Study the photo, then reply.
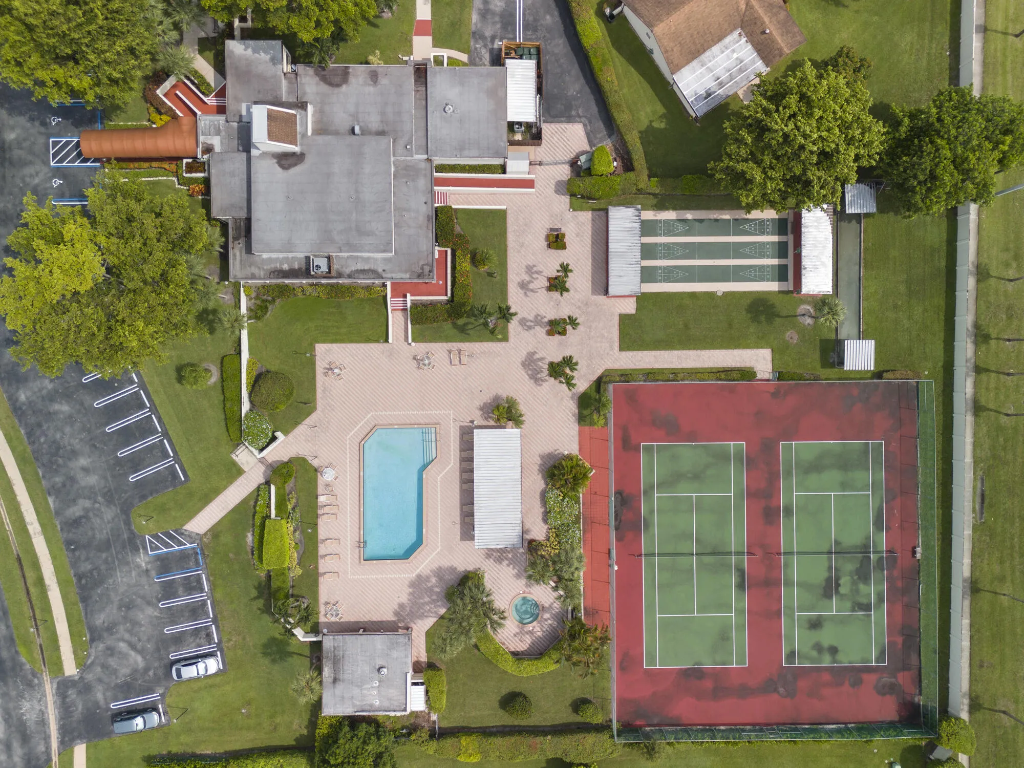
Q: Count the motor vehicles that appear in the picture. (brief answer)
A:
2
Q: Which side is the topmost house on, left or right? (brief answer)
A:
right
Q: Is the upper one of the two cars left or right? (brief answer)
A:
left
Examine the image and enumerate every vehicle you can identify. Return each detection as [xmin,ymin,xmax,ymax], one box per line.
[109,706,162,735]
[168,654,217,680]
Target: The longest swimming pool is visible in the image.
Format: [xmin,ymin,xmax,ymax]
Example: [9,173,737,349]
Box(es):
[357,424,440,563]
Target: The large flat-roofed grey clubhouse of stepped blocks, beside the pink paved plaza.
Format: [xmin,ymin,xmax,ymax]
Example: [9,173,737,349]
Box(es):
[198,40,507,286]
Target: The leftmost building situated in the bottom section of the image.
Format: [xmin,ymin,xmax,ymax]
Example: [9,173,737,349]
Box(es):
[323,620,417,715]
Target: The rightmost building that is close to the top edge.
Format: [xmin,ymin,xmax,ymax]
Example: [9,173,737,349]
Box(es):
[626,0,807,124]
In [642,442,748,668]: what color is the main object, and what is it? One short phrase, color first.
green tennis court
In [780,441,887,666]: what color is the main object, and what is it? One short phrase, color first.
green tennis court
